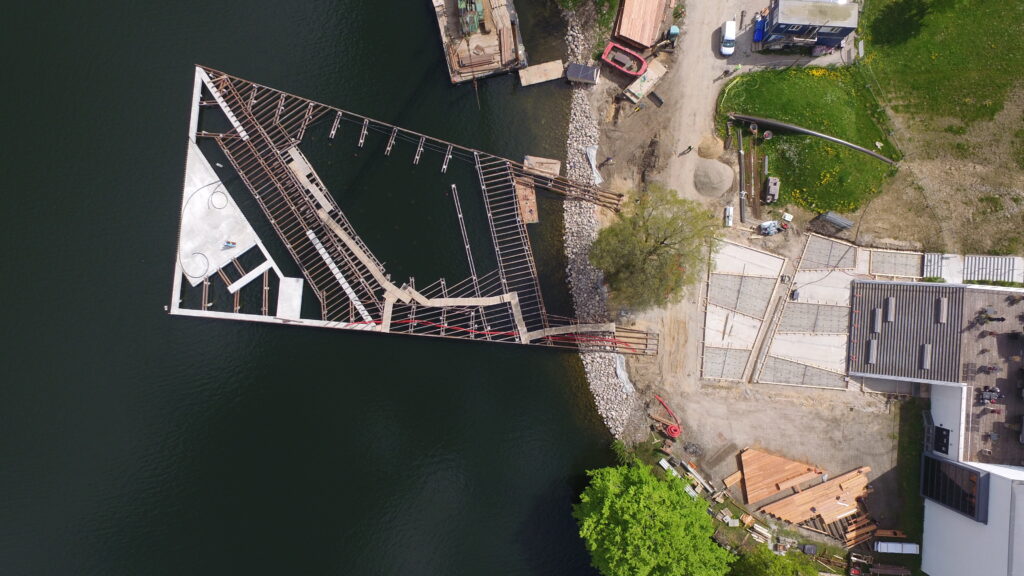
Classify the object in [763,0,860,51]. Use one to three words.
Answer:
house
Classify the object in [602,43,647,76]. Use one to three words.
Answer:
boat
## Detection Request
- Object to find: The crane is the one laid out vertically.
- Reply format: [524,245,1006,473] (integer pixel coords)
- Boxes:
[455,0,487,109]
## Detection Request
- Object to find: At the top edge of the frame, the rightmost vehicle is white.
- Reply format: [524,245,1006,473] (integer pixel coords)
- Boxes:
[719,20,738,59]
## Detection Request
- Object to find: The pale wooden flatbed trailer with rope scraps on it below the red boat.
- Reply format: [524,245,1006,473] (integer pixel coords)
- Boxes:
[623,59,668,103]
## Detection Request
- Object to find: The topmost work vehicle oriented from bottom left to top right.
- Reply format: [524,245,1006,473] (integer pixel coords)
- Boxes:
[643,26,683,61]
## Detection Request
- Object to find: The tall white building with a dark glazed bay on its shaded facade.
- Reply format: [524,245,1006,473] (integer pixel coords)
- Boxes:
[920,450,1024,576]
